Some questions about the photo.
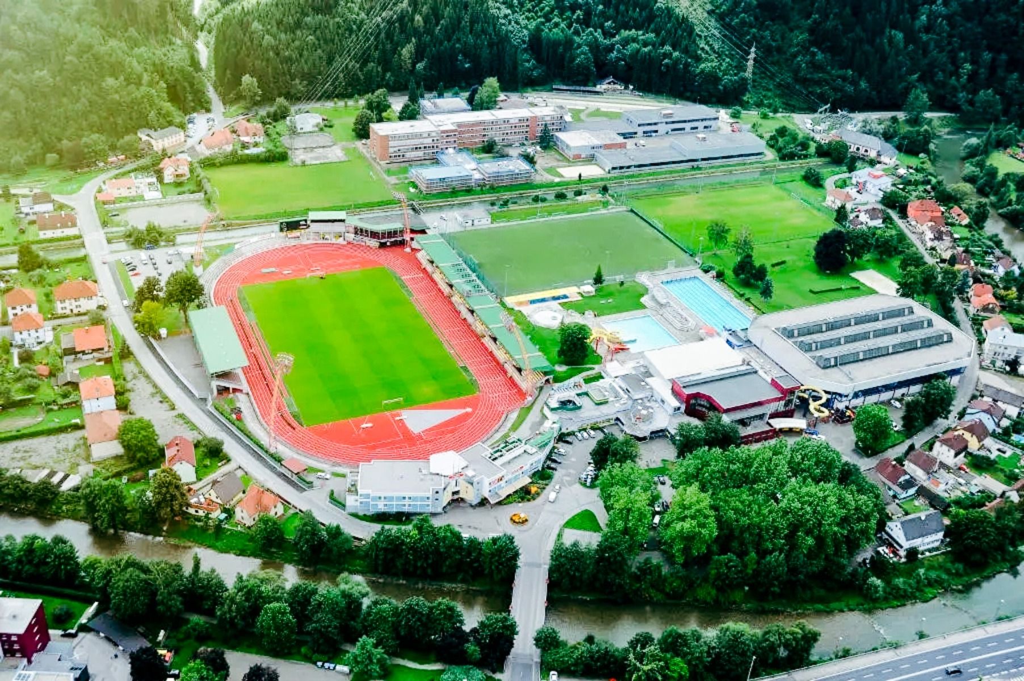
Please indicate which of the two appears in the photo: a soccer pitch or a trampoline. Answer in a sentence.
It is a soccer pitch that can be seen here.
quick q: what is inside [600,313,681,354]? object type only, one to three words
swimming pool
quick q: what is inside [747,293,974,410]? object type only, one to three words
building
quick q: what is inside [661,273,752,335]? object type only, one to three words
swimming pool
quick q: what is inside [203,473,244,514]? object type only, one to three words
house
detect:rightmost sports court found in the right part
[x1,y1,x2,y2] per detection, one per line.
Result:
[851,268,898,294]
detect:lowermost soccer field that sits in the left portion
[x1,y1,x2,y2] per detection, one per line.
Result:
[240,264,479,428]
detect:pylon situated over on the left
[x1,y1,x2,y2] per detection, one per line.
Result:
[283,95,296,135]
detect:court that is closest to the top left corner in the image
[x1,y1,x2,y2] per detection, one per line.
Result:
[291,146,348,165]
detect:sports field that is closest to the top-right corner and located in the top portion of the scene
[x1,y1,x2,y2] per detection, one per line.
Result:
[442,210,695,298]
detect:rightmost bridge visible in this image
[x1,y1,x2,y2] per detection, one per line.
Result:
[506,556,549,681]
